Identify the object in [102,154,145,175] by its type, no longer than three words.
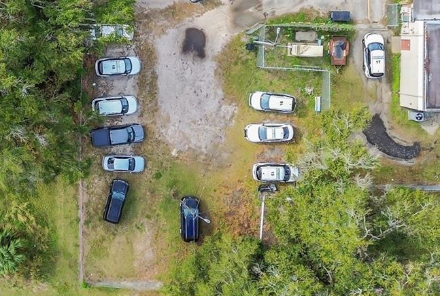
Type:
car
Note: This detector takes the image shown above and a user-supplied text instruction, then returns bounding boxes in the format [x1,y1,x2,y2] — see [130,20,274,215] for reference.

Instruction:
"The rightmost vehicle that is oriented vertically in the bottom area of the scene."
[180,195,201,242]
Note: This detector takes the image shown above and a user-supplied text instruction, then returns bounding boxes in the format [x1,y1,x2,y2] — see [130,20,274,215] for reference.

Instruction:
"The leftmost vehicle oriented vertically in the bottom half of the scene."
[103,177,129,224]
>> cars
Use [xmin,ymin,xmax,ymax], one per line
[252,161,298,185]
[248,91,295,112]
[91,94,138,117]
[100,21,133,43]
[244,122,292,143]
[180,195,201,242]
[102,154,145,175]
[95,55,140,77]
[103,177,129,224]
[360,32,386,79]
